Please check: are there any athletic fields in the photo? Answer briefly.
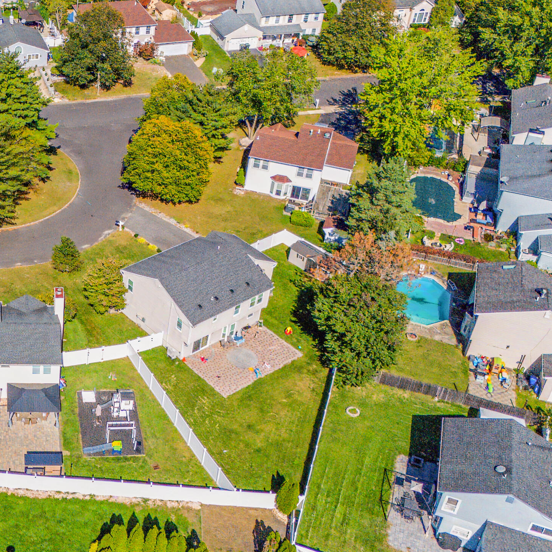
No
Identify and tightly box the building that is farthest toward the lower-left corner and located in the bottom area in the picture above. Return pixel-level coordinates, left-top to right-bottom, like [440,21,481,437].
[23,443,65,474]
